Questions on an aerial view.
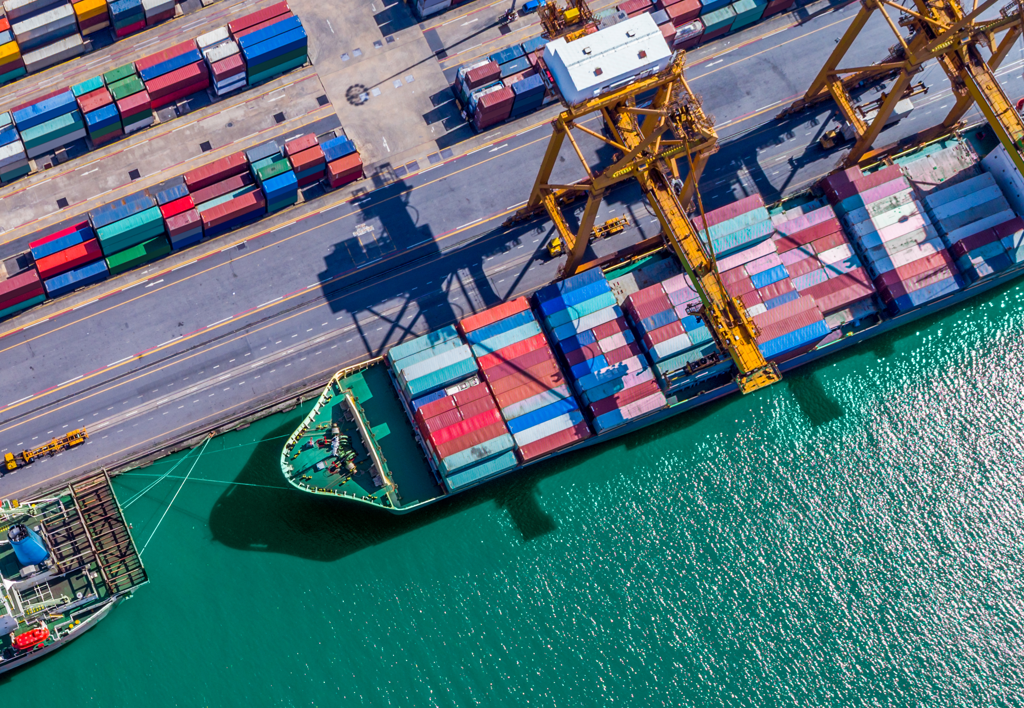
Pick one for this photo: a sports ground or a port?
port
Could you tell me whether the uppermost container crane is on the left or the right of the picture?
right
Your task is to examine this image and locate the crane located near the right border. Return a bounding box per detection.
[784,0,1024,184]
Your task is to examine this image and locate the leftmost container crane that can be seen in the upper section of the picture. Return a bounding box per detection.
[508,0,778,397]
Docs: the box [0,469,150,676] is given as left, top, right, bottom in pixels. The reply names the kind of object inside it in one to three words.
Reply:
ship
